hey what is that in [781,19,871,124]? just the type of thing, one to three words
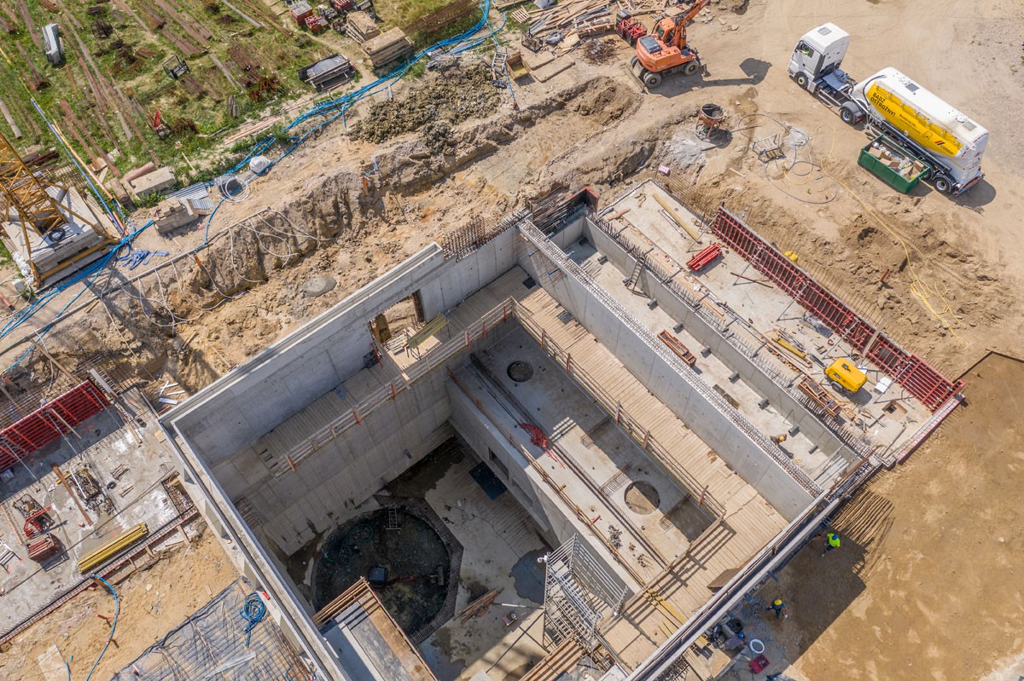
vehicle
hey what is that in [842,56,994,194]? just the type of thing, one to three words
trailer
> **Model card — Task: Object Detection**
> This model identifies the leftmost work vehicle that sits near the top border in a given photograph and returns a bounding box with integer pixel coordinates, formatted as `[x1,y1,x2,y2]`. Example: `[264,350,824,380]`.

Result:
[616,0,708,100]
